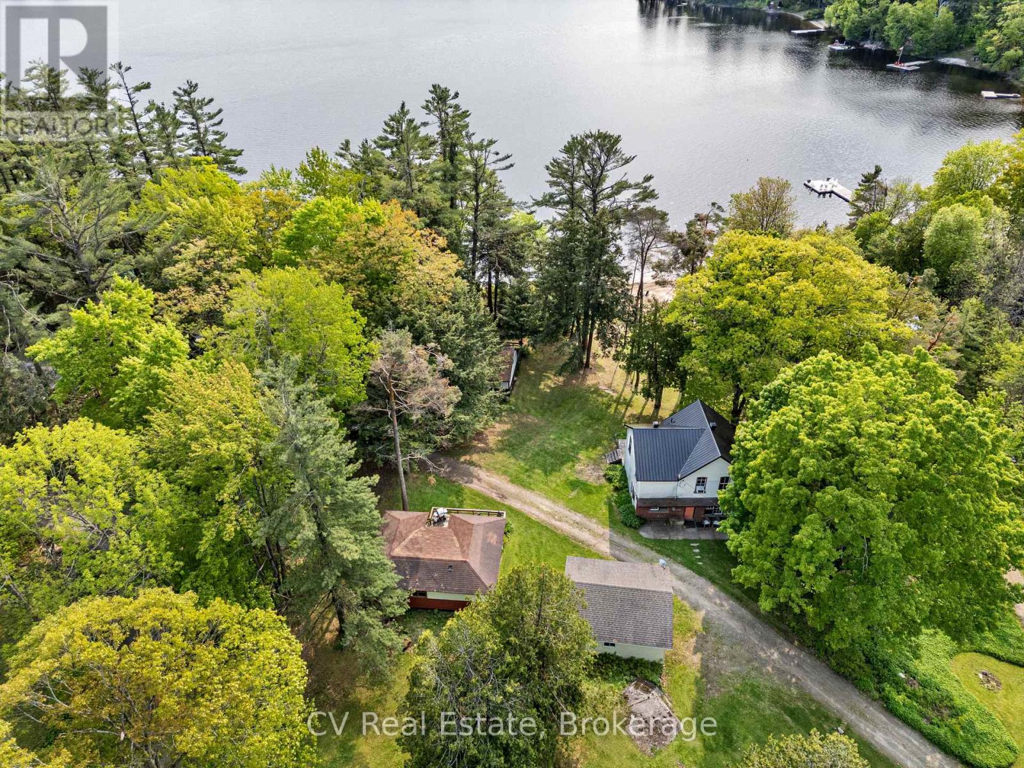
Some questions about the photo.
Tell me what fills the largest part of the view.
trees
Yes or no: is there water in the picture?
Yes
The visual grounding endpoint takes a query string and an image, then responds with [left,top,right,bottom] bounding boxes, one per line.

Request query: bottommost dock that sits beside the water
[804,180,874,209]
